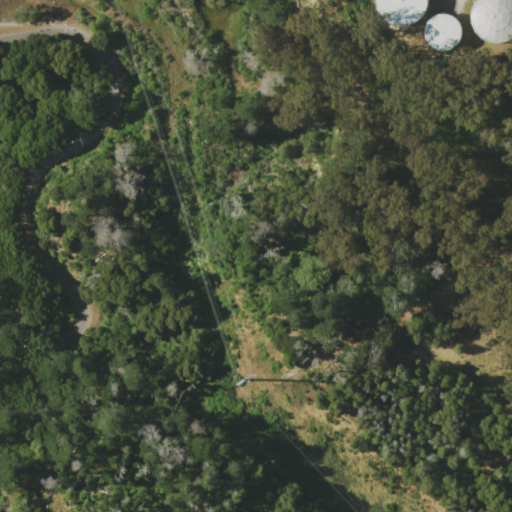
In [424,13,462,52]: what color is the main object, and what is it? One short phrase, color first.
white storage tank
